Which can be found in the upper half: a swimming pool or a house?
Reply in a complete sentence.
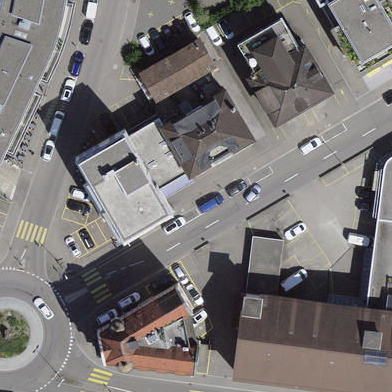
The one visible in the upper half is a house.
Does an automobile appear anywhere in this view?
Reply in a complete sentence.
Yes, an automobile is visible in the scene.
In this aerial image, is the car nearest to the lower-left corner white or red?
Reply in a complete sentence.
The color of the car nearest to the lower-left corner is white.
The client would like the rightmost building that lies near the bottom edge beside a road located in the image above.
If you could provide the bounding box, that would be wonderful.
[232,294,392,392]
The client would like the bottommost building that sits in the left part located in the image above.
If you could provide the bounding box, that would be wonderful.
[96,280,200,376]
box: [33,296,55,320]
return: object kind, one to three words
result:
car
